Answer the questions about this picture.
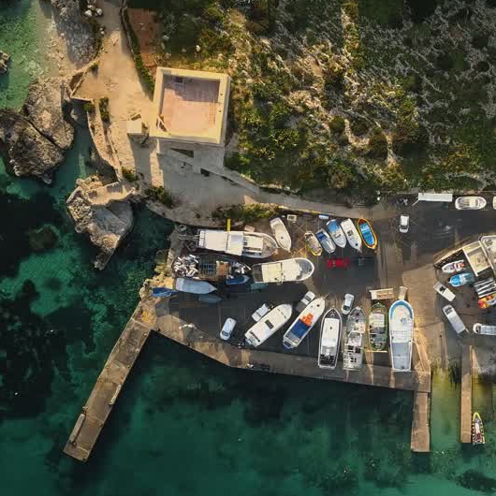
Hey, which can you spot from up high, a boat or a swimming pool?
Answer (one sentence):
It is a boat that can be seen here.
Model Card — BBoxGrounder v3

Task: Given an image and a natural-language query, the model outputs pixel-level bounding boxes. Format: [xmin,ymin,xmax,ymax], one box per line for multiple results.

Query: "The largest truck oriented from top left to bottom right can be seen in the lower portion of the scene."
[443,305,466,333]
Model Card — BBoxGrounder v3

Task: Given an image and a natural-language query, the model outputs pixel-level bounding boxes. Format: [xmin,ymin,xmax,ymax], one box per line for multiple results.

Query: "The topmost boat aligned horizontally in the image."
[455,195,485,208]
